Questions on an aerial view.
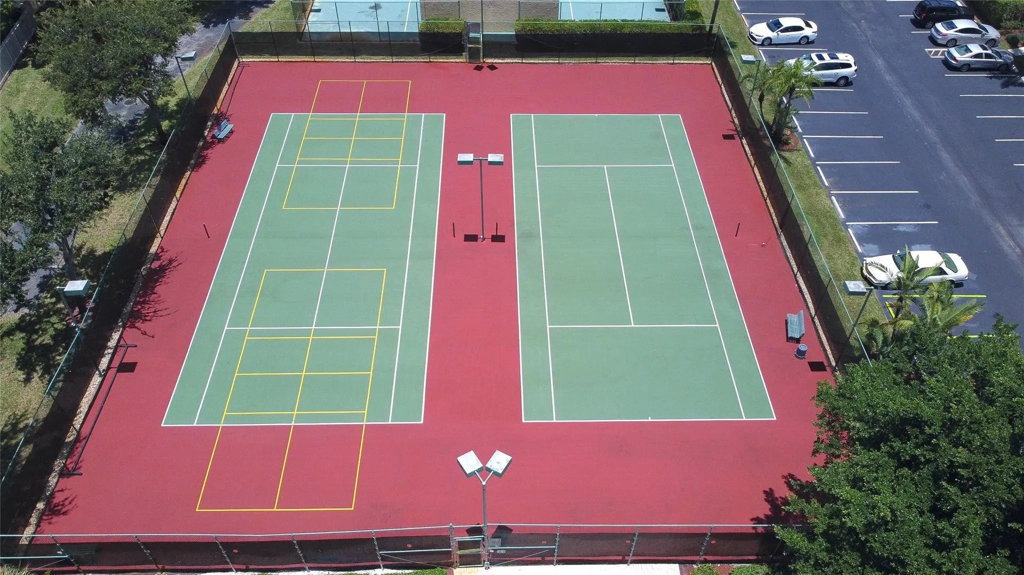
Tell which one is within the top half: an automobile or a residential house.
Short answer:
automobile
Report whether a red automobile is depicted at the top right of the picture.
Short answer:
No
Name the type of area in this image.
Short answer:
sports ground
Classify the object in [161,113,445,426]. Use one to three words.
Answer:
tennis court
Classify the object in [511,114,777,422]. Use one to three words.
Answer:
tennis court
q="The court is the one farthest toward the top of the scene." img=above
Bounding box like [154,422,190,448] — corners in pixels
[303,0,670,42]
